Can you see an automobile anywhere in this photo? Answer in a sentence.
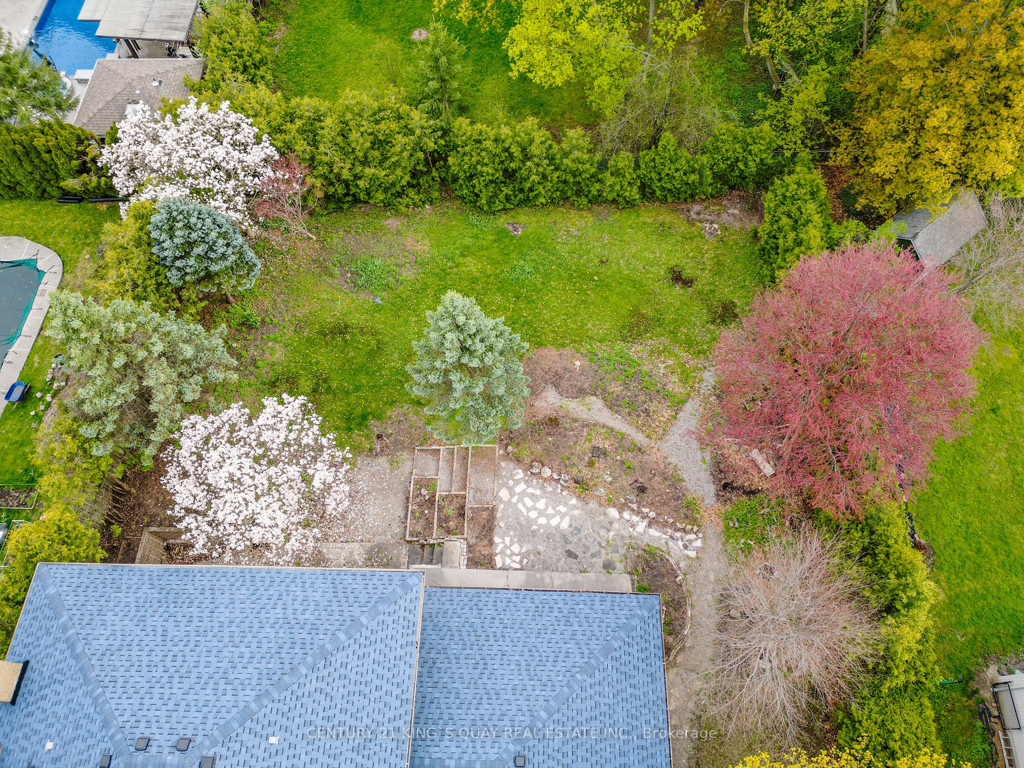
No, I can see no automobile in this picture.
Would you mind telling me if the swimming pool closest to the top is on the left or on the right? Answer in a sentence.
It is on the left.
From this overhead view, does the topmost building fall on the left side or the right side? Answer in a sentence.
It is on the left.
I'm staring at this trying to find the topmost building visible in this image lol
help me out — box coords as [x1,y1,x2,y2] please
[76,0,211,59]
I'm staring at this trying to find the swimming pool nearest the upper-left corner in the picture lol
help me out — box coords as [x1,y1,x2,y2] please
[14,0,75,81]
